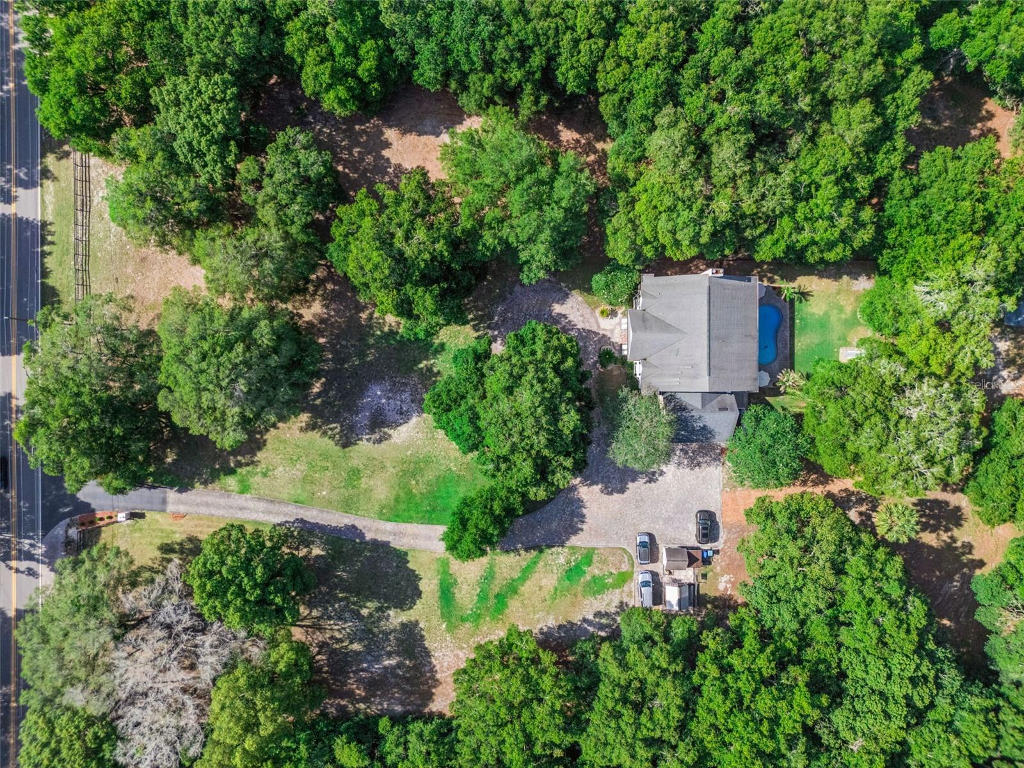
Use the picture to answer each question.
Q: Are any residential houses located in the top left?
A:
No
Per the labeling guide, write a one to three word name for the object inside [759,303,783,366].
swimming pool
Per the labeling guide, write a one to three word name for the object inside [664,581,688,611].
shed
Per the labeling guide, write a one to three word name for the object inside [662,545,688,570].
shed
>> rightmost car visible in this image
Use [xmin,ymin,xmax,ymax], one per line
[694,509,711,542]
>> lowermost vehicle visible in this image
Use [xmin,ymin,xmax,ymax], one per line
[637,570,653,608]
